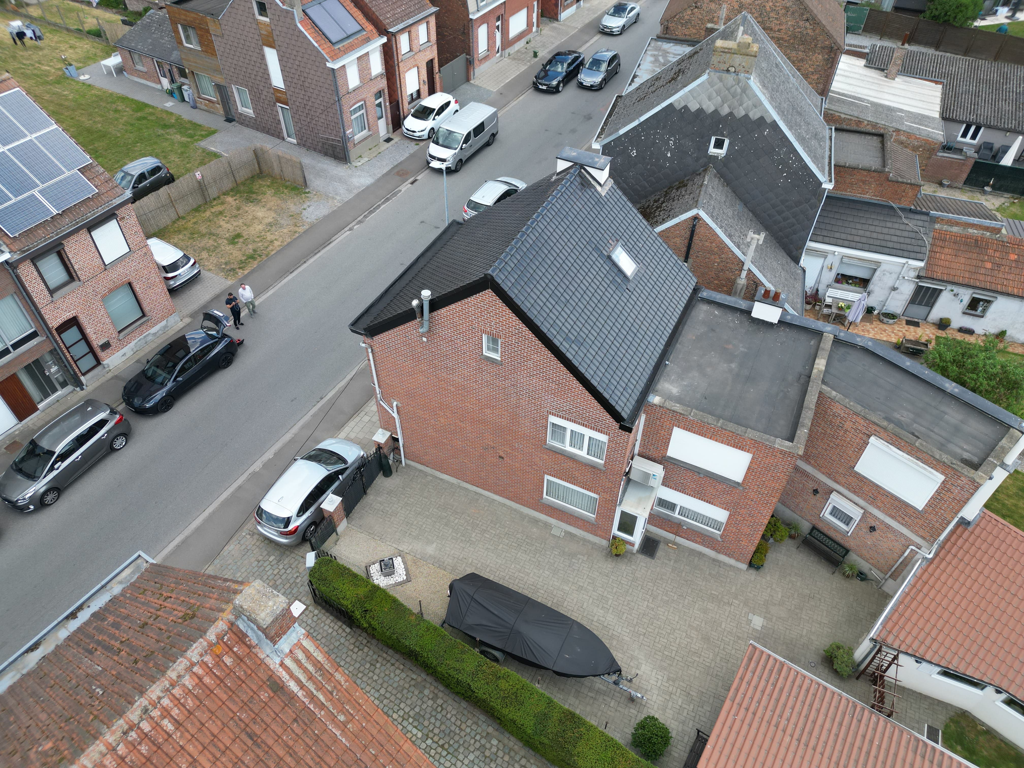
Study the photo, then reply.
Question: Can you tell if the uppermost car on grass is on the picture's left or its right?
left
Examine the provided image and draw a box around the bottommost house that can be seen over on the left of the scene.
[0,552,433,768]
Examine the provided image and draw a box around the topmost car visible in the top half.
[599,4,640,35]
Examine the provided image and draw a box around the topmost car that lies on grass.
[111,151,178,200]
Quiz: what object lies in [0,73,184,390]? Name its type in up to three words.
house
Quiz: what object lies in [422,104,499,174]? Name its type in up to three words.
van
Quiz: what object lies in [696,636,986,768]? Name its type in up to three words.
building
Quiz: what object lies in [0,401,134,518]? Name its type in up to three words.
car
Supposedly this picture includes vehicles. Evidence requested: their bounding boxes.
[151,236,205,296]
[111,151,178,200]
[532,52,585,93]
[577,50,622,89]
[463,177,529,227]
[0,401,134,518]
[115,309,239,420]
[599,4,640,35]
[401,94,456,138]
[247,435,365,553]
[422,104,499,174]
